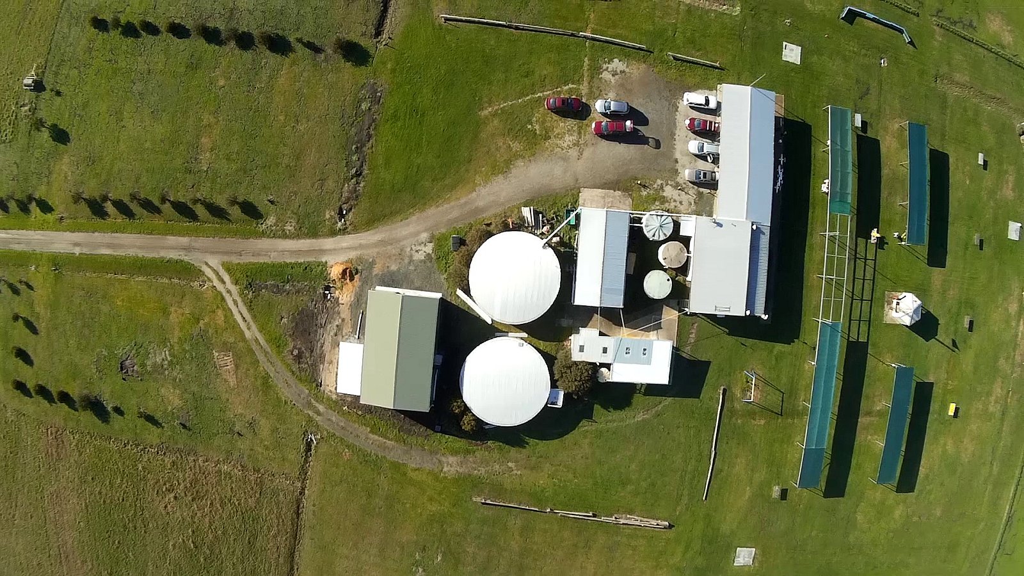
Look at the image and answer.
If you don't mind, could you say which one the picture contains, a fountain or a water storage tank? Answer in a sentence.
It is a water storage tank that can be seen here.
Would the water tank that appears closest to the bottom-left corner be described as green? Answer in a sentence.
No, the color of the water tank that appears closest to the bottom-left corner is white.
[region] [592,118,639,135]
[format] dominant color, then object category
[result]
red vehicle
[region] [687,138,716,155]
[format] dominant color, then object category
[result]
white vehicle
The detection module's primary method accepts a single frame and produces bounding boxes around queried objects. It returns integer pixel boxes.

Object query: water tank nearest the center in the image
[469,231,561,323]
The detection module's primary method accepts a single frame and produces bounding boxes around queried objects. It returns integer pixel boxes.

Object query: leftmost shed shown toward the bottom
[337,288,442,412]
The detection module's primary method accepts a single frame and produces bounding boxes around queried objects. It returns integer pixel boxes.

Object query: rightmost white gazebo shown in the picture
[884,292,922,326]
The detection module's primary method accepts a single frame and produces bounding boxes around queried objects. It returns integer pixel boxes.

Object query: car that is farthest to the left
[546,95,582,111]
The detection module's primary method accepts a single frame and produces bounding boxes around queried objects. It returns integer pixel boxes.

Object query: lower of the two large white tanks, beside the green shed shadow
[460,336,551,427]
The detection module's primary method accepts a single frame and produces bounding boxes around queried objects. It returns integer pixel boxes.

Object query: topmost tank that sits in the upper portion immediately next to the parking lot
[640,210,673,242]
